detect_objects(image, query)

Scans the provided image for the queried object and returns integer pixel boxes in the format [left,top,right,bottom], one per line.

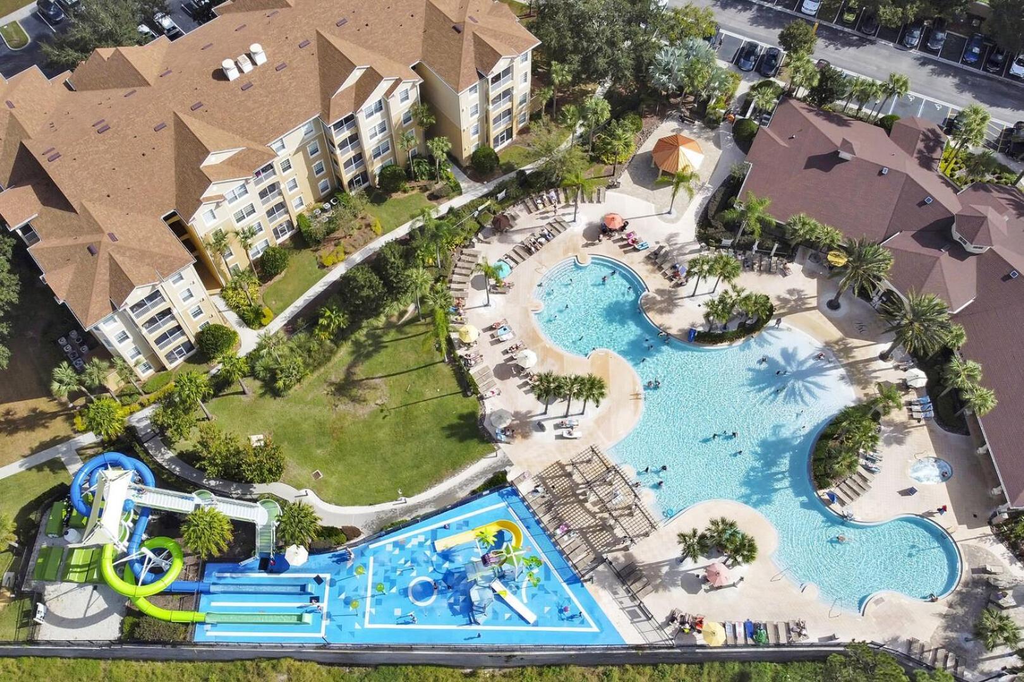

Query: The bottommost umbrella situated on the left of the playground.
[283,543,311,571]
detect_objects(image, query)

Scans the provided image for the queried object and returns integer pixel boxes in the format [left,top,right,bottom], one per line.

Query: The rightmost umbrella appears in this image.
[900,366,929,393]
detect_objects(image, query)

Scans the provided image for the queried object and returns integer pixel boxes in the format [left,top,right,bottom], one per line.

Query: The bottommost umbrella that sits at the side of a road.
[698,619,728,650]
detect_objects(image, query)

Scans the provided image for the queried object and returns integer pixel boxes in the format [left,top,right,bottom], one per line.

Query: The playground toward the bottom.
[437,517,537,625]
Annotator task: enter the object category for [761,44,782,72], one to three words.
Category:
car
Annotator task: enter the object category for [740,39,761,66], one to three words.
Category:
car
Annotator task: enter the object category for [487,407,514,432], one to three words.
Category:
umbrella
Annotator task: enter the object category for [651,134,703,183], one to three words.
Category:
gazebo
